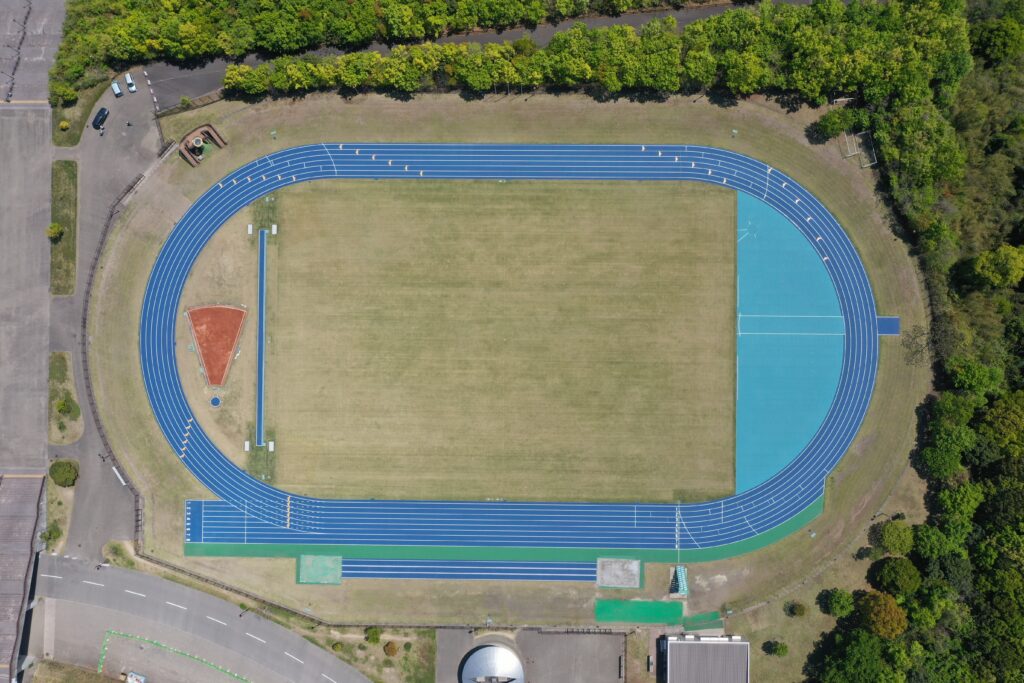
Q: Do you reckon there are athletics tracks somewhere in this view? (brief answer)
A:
Yes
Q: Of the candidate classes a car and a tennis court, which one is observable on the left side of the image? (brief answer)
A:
car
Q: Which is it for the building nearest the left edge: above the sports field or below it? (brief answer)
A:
below it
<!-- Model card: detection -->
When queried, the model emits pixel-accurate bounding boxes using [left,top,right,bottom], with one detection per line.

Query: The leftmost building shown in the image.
[461,640,526,683]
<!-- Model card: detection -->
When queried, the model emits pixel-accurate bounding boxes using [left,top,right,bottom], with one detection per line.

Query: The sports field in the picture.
[274,179,737,502]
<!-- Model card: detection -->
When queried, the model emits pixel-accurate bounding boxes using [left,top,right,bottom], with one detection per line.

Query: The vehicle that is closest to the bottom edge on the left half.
[90,107,109,129]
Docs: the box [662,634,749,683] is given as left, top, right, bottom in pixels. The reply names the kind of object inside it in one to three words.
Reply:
building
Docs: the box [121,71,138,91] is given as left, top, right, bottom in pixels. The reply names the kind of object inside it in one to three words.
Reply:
car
